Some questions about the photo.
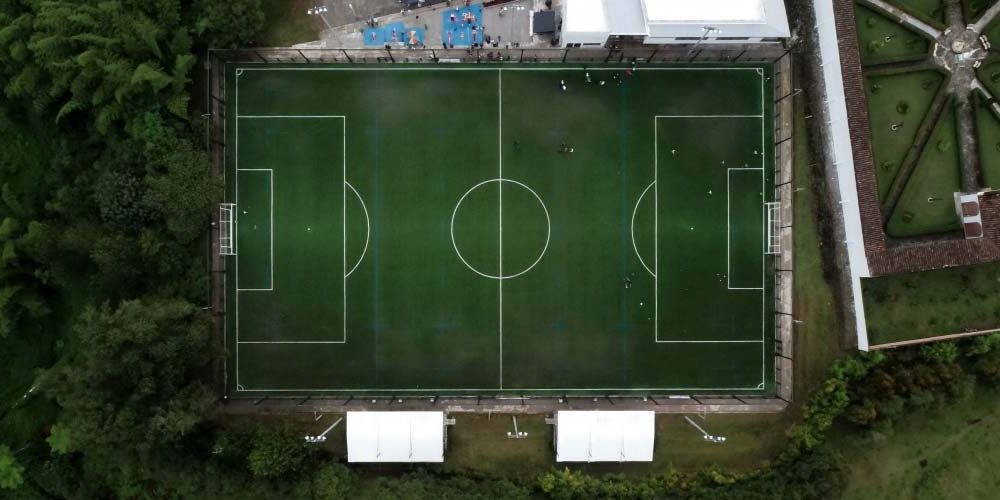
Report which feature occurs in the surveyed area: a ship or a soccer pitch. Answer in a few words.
soccer pitch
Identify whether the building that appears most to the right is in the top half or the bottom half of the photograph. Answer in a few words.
top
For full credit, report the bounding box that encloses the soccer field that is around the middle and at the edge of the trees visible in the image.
[225,62,775,397]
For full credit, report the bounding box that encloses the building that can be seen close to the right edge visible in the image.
[814,0,1000,277]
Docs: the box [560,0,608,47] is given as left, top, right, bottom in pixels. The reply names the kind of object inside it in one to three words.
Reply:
building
